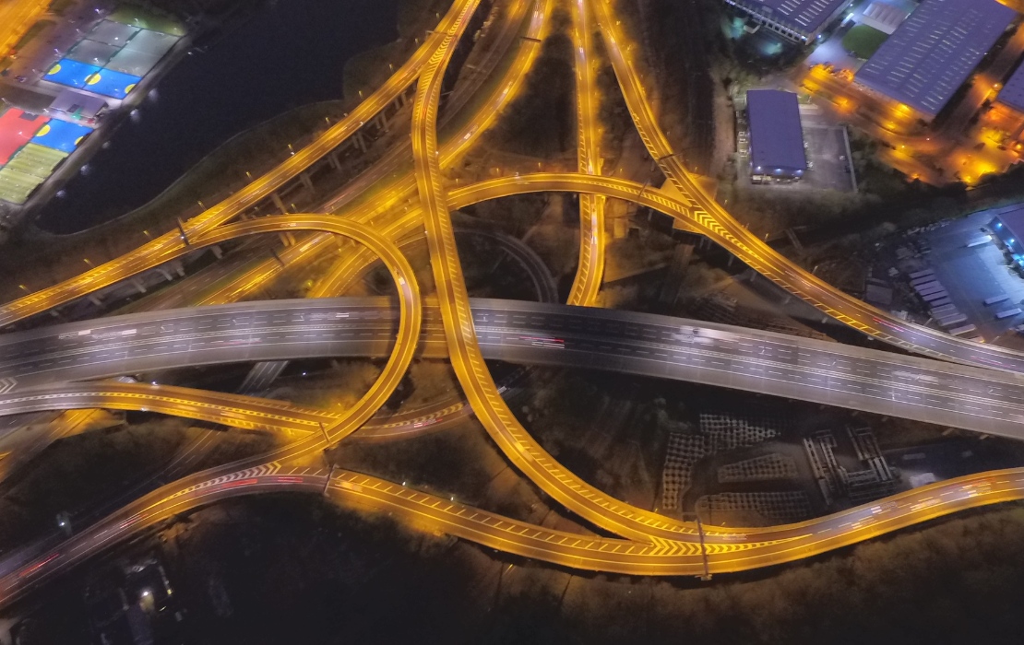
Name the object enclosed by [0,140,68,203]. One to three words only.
sports field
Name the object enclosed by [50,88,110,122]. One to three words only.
building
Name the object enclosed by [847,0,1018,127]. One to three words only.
warehouse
